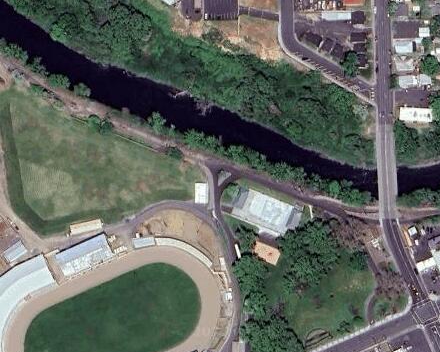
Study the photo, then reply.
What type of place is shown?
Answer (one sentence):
It's a sports ground.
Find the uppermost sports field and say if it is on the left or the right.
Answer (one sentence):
The uppermost sports field is on the left side of the image.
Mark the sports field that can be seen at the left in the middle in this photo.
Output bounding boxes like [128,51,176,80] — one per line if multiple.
[0,83,192,238]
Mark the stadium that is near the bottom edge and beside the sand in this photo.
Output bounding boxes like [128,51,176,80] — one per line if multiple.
[0,237,220,352]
